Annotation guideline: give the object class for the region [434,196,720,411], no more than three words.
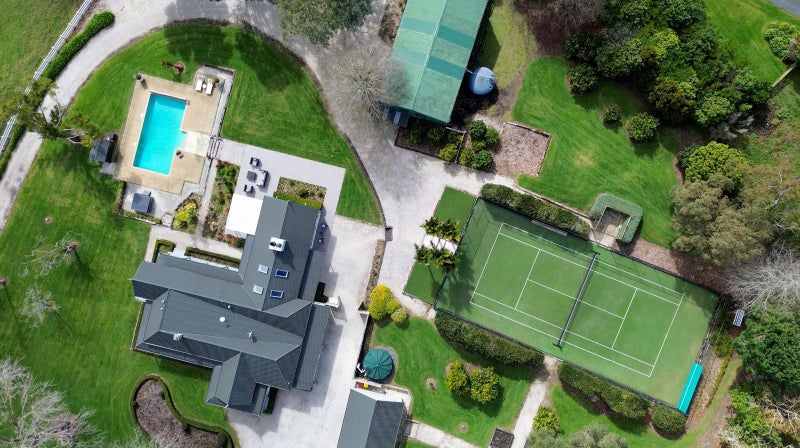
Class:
tennis court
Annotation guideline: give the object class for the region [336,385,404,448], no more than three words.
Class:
building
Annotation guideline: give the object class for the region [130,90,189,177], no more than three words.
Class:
swimming pool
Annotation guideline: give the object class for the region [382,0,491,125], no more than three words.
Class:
shed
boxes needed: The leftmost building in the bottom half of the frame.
[132,195,332,414]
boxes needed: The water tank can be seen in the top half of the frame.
[467,69,495,99]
